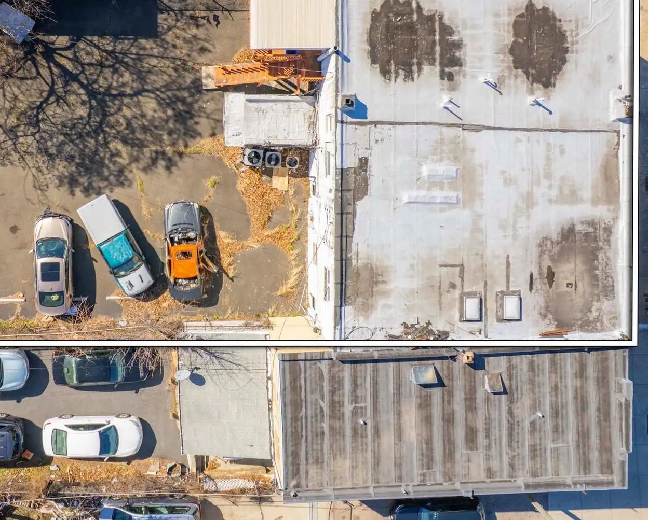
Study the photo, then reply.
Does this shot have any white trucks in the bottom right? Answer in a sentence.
No, in the bottom right there is no white truck.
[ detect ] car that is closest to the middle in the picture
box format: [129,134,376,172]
[161,199,218,299]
